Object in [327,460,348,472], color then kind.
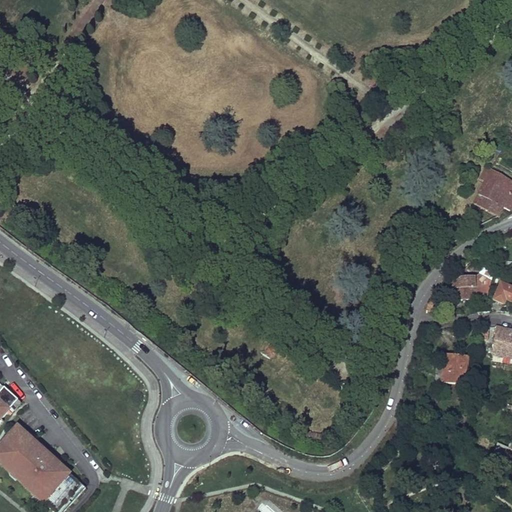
white vehicle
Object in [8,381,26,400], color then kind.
red vehicle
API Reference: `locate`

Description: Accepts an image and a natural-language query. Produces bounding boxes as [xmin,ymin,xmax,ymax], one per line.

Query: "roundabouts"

[157,373,249,488]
